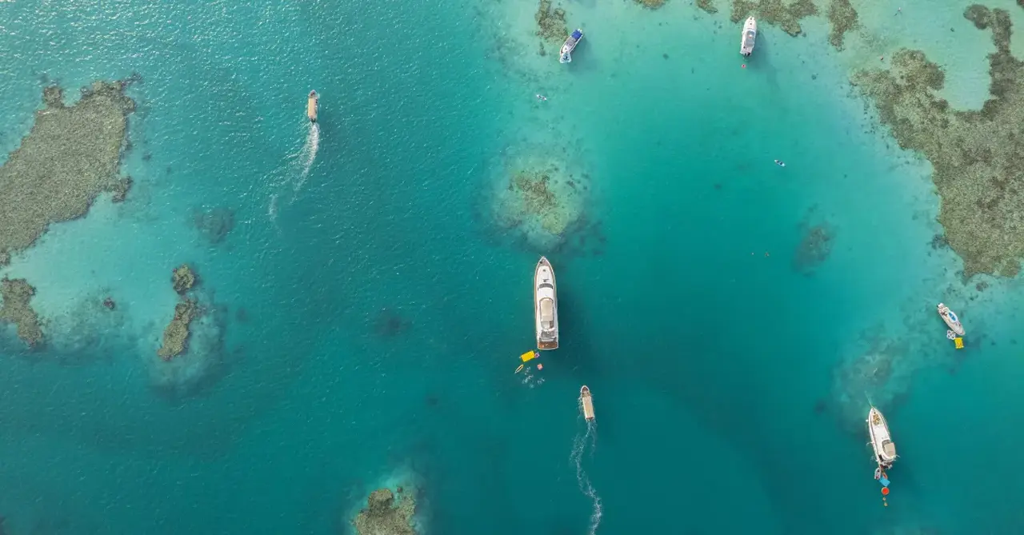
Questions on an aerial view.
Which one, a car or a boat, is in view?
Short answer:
boat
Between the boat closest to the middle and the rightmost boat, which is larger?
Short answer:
the boat closest to the middle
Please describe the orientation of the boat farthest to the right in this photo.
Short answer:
diagonally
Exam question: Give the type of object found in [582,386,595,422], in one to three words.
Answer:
boat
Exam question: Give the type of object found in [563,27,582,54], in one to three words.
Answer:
boat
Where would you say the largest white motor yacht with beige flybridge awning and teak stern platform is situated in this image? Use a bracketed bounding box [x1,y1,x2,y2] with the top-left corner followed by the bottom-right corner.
[534,252,558,350]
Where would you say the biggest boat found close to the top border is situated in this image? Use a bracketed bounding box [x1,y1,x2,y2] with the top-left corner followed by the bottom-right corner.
[740,16,756,57]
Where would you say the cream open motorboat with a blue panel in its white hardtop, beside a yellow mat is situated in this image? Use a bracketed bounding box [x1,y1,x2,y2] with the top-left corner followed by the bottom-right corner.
[934,306,965,333]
